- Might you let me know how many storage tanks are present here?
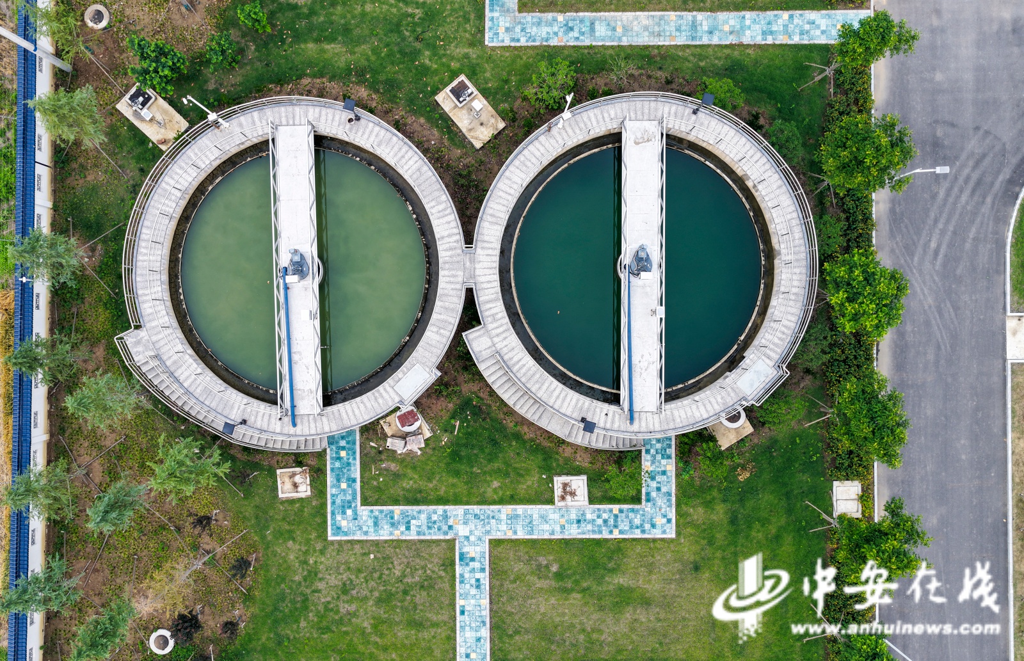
2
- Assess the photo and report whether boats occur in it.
No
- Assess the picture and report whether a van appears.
No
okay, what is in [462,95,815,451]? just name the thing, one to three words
storage tank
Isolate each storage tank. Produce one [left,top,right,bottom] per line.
[462,95,815,451]
[109,98,466,453]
